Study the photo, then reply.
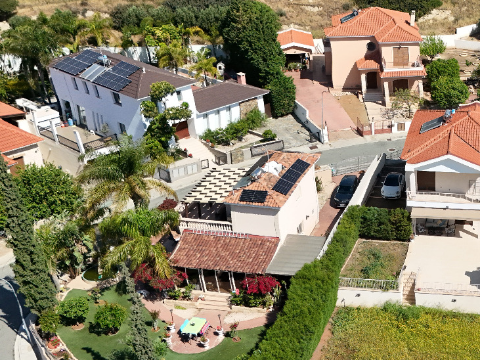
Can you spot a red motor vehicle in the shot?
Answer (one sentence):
No, the frame has no red motor vehicle in it.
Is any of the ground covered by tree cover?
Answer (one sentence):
Yes, tree cover can be seen from above here.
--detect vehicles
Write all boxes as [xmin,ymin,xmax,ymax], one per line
[329,169,360,204]
[365,169,402,207]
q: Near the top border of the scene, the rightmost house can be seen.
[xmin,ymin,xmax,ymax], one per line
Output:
[321,5,430,113]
